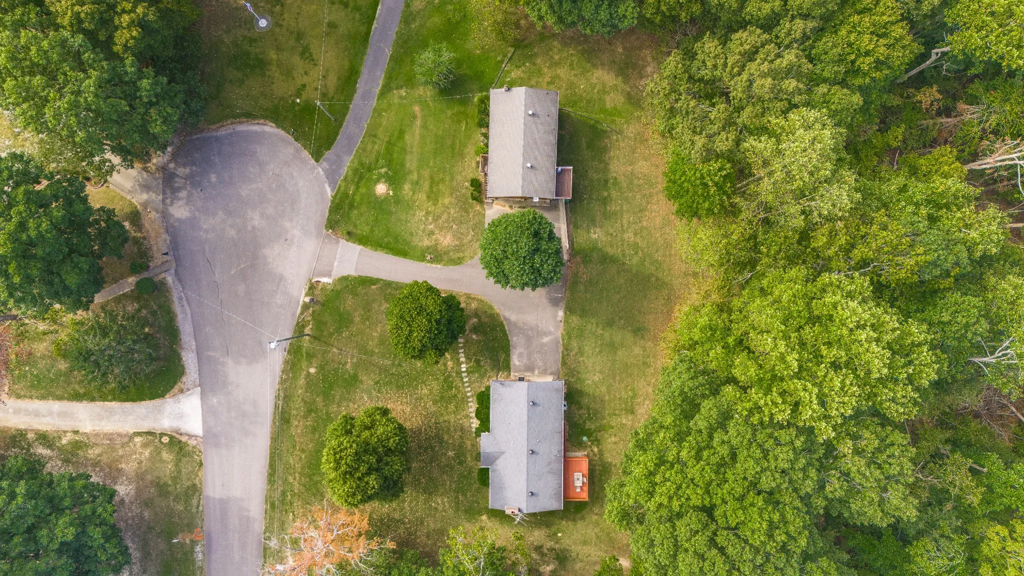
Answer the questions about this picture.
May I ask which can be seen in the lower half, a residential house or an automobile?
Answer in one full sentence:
It is a residential house that can be seen in the lower half.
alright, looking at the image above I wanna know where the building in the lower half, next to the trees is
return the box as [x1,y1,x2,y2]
[481,380,565,531]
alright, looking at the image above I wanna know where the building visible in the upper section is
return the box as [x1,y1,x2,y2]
[480,86,560,207]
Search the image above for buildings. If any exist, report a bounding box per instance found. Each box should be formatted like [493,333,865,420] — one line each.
[480,86,560,207]
[481,380,565,531]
